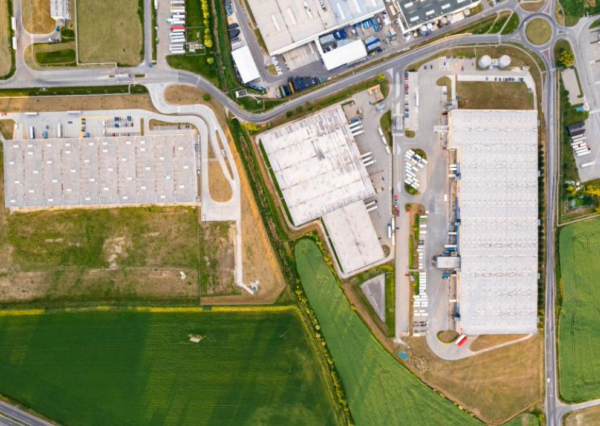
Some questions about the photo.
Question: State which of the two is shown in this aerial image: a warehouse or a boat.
warehouse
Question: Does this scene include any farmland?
Yes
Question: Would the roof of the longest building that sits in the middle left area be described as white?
Yes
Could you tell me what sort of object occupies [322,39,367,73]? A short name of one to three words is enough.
shed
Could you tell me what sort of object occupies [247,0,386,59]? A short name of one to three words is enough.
building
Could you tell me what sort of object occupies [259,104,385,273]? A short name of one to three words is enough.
warehouse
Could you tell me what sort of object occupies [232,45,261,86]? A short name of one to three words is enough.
shed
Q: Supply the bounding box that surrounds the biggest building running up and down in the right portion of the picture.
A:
[448,110,540,334]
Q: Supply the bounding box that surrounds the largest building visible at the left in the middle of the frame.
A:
[4,132,199,207]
